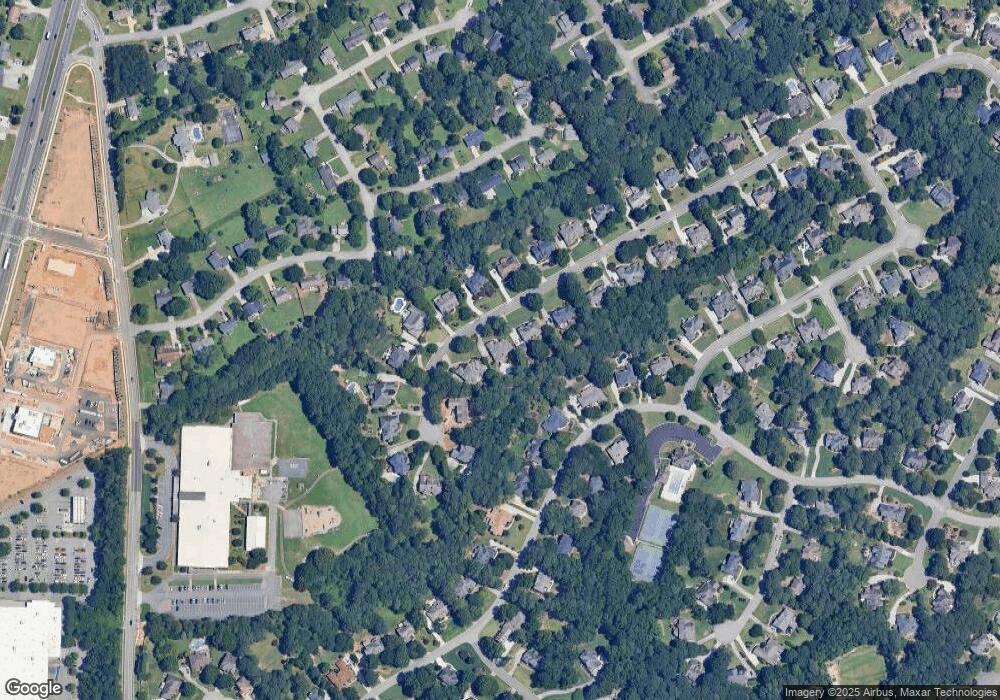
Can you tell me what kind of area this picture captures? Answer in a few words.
residential area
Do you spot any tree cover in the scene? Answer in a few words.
Yes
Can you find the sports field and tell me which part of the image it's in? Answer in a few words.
bottom right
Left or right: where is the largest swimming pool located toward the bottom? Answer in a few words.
right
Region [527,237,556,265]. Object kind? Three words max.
house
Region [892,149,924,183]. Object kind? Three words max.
house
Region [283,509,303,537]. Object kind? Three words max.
sports court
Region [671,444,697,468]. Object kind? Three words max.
building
